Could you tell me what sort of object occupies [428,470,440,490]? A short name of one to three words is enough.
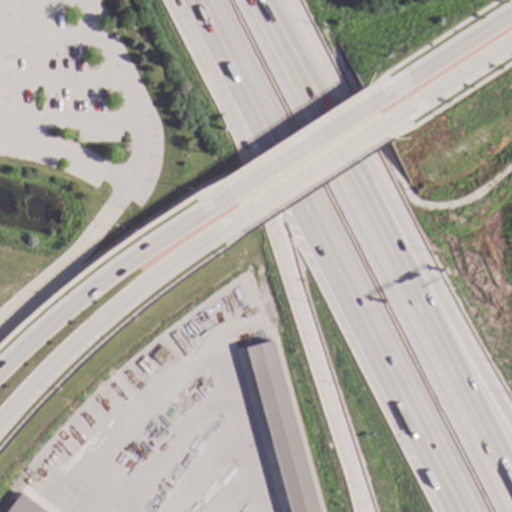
vehicle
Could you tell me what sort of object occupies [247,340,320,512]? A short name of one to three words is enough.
building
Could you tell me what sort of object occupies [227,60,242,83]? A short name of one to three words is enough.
vehicle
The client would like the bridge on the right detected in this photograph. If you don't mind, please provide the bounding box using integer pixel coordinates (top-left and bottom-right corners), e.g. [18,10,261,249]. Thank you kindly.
[243,86,393,224]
